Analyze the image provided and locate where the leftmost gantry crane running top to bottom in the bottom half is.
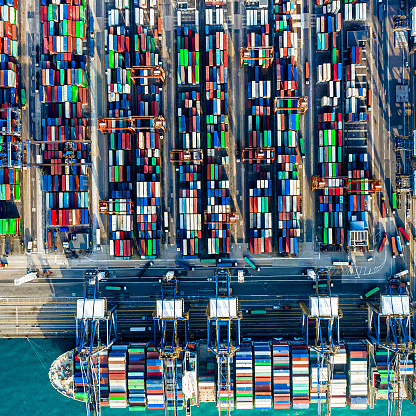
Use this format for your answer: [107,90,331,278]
[74,274,124,416]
